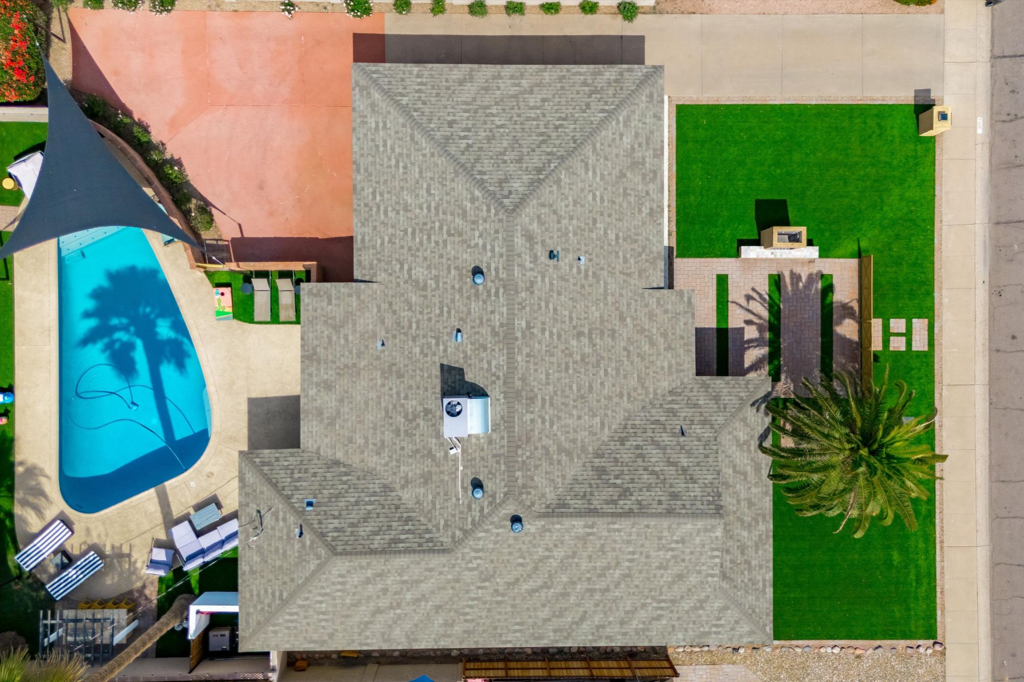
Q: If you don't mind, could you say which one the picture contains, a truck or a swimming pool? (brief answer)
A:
swimming pool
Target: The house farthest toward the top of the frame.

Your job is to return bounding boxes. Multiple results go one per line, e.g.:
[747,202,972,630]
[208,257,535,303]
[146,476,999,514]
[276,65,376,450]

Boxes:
[239,63,773,652]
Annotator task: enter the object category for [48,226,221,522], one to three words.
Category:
swimming pool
